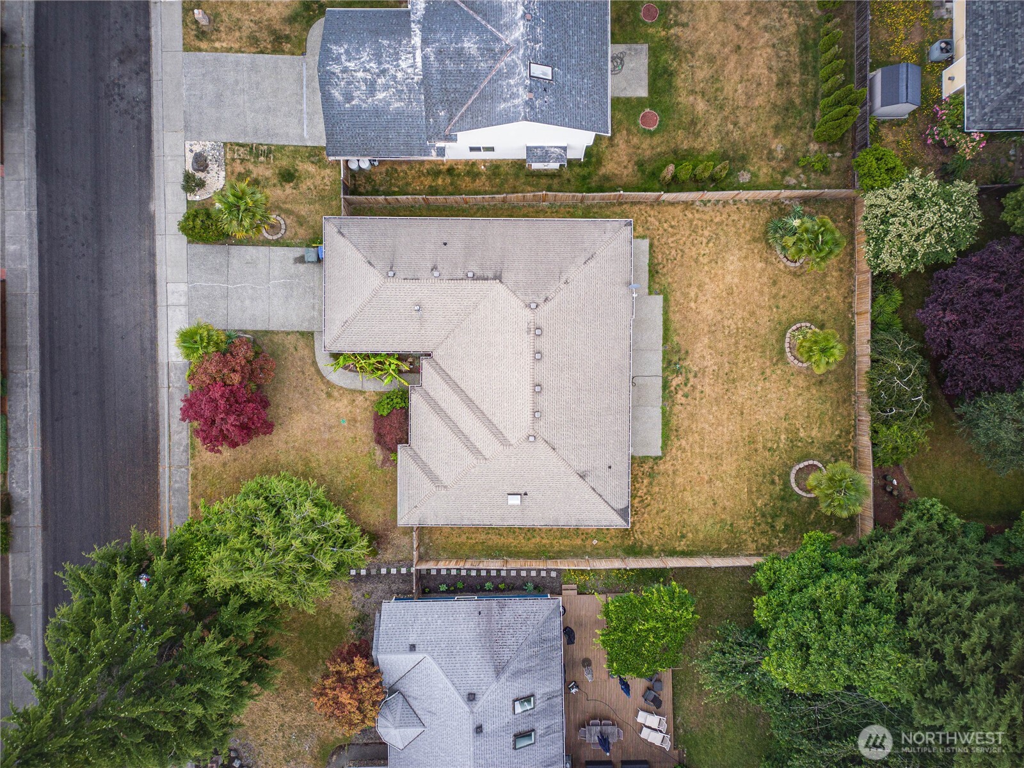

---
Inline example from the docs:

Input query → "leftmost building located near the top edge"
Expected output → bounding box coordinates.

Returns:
[317,0,610,168]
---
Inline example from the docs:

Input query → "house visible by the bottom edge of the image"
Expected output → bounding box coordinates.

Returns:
[373,595,564,768]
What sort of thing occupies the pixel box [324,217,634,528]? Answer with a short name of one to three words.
house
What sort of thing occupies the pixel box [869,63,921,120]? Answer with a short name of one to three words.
shed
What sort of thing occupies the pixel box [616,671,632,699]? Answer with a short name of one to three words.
umbrella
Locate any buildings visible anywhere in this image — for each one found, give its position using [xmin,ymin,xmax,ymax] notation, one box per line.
[373,595,564,768]
[869,63,921,120]
[942,0,1024,133]
[317,0,610,168]
[324,217,634,528]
